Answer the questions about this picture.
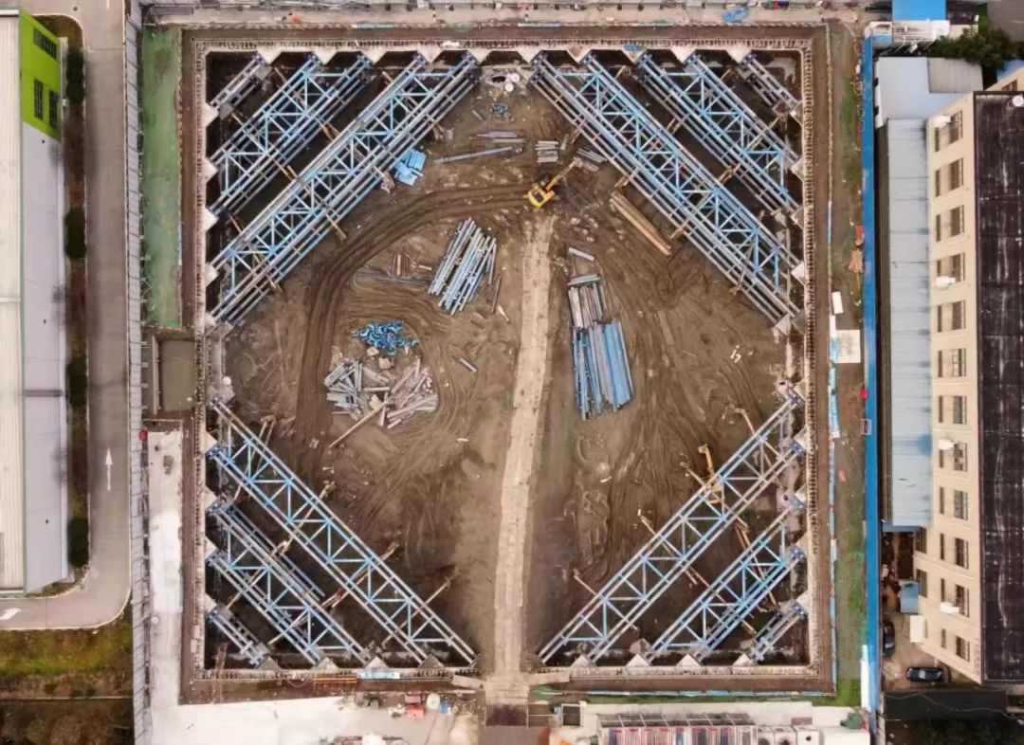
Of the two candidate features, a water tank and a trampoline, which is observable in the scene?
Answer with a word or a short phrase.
water tank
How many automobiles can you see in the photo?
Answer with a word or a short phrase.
2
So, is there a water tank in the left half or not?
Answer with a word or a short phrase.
Yes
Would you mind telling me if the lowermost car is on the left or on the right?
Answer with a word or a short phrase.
right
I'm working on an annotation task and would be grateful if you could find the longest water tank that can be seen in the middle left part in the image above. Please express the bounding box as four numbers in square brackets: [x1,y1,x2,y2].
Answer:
[151,330,194,418]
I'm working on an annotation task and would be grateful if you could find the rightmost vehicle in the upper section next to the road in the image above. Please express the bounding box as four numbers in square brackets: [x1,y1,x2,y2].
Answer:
[524,157,579,213]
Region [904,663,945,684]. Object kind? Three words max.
car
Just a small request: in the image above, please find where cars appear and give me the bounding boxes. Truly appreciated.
[904,663,945,684]
[879,618,899,658]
